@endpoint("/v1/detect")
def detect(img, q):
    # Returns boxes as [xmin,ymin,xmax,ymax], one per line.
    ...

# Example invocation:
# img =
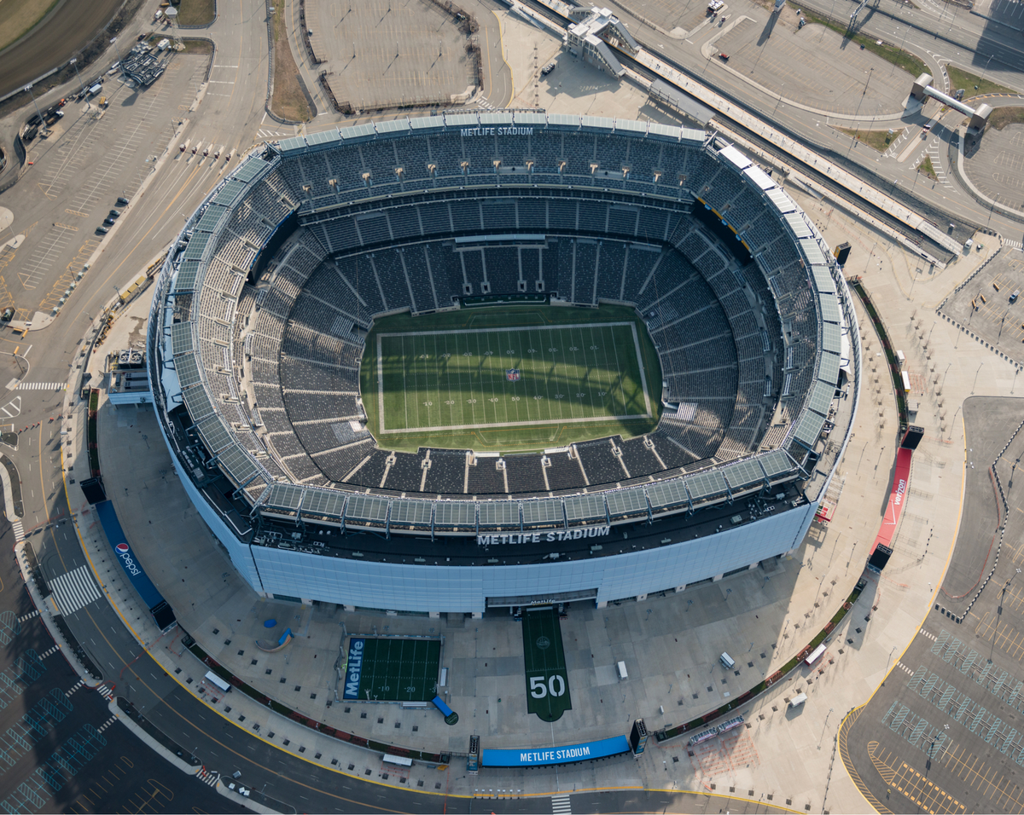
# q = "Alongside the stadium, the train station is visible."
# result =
[561,6,644,80]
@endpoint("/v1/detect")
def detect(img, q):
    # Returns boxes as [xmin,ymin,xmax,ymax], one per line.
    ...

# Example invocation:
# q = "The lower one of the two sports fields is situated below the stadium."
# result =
[342,637,441,701]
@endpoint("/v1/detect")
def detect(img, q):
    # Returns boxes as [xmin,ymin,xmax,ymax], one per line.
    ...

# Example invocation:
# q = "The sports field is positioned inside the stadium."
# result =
[381,324,648,429]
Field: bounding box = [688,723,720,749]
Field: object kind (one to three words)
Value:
car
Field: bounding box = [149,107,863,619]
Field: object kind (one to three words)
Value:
stadium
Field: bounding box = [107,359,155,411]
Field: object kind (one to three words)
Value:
building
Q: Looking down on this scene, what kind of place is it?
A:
sports ground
